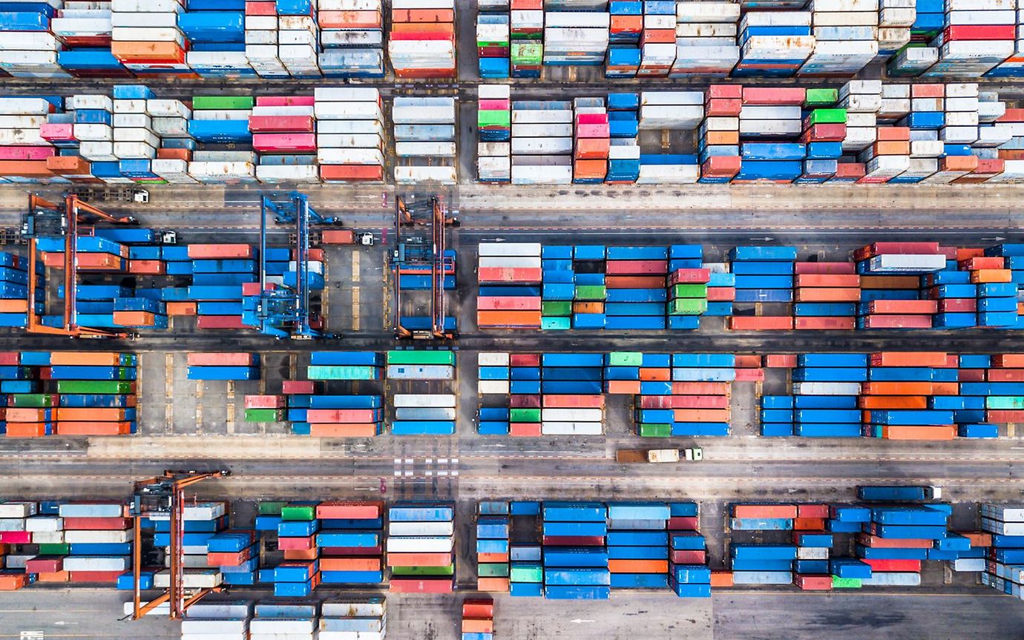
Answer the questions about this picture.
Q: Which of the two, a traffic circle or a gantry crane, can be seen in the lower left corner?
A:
gantry crane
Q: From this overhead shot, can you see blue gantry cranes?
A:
Yes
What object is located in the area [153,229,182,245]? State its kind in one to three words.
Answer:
vehicle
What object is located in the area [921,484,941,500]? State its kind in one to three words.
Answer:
vehicle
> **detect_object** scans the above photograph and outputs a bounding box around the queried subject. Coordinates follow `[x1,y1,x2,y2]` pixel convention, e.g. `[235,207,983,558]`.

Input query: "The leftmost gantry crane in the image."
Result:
[17,187,142,343]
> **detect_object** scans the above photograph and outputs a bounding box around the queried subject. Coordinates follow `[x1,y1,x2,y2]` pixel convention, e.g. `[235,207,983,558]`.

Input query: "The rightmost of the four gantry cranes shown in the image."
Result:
[384,187,457,343]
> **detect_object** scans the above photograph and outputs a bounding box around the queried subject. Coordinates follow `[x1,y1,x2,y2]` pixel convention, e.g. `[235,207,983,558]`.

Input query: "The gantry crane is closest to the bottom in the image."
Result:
[122,469,234,627]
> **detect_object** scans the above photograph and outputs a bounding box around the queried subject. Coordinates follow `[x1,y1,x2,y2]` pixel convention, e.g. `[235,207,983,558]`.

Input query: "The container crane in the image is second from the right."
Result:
[250,187,342,343]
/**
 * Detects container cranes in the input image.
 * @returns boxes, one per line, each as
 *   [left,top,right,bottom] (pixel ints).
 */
[17,187,142,343]
[122,469,234,627]
[250,187,342,343]
[384,187,457,343]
